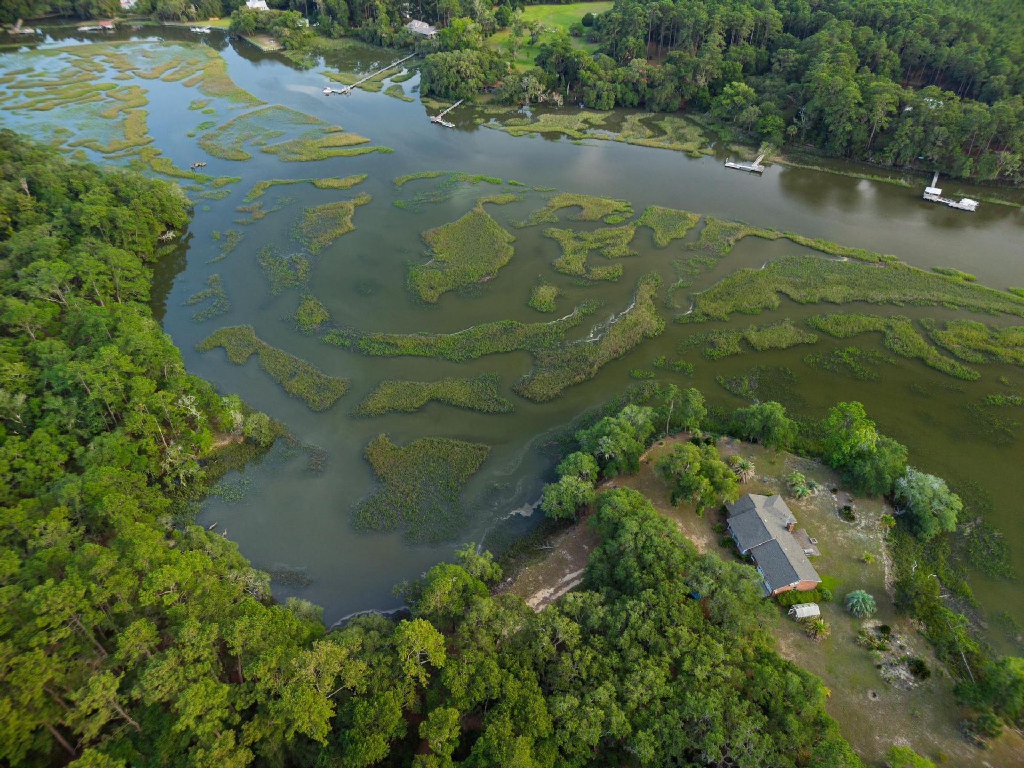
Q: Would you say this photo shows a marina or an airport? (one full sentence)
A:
The picture captures a marina.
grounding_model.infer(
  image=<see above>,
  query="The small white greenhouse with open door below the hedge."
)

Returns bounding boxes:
[788,605,826,630]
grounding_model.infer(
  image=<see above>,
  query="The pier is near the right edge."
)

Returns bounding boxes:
[922,168,979,212]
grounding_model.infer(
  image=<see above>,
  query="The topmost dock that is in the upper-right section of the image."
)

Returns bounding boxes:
[725,142,772,175]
